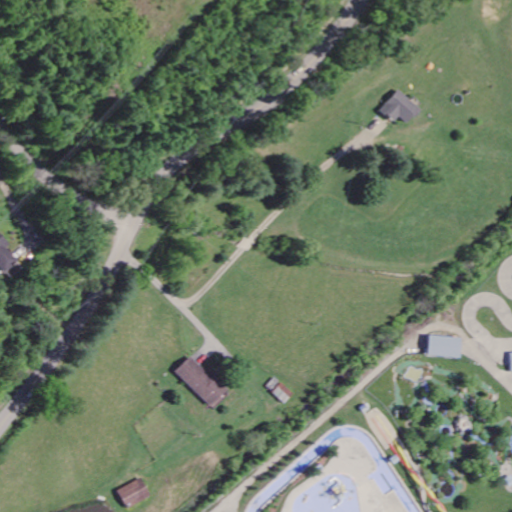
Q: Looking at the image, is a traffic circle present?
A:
No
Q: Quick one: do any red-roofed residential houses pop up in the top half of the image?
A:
No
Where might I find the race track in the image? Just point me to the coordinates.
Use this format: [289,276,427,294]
[462,256,512,372]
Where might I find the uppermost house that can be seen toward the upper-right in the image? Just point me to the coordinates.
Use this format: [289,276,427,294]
[380,85,420,124]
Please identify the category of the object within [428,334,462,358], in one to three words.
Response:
building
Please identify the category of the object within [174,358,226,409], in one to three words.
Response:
house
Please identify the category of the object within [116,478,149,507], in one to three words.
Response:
barn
